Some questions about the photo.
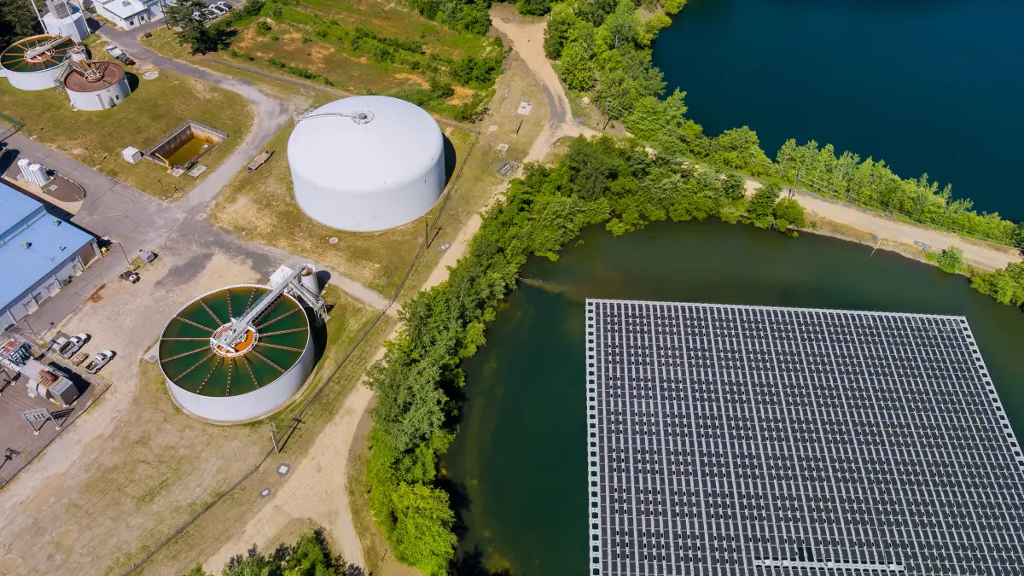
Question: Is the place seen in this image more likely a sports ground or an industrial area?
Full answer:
This image shows an industrial area.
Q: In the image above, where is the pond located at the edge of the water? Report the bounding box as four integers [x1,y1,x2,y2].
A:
[440,222,1024,576]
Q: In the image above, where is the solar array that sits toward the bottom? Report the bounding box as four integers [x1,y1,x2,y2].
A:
[586,298,1024,576]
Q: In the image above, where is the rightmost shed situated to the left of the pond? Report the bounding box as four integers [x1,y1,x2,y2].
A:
[266,268,297,299]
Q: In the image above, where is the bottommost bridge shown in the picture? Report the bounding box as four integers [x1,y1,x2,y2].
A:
[213,263,309,352]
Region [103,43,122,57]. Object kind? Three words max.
vehicle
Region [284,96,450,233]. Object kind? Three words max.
storage tank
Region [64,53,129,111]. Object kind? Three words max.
storage tank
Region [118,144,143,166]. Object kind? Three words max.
shed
